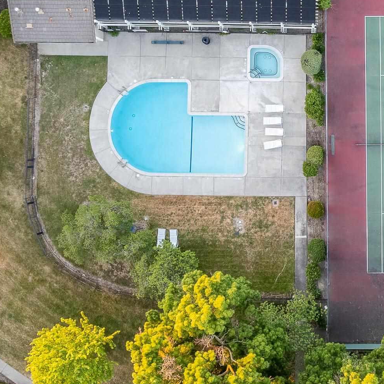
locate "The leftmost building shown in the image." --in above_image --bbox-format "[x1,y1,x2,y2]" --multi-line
[8,0,109,43]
